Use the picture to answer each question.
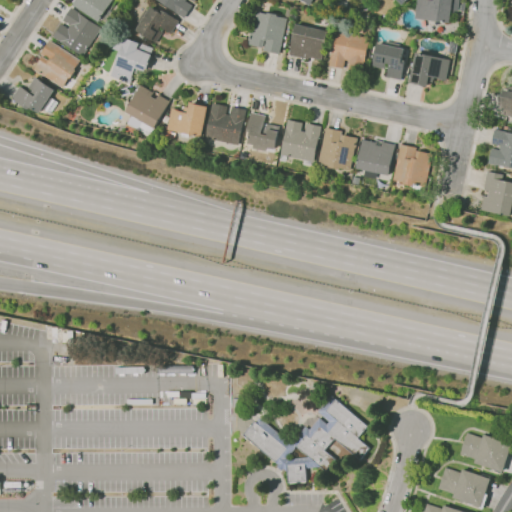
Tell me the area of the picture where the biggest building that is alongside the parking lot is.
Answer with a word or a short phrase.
bottom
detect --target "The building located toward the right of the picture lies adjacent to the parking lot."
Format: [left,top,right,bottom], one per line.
[244,400,370,485]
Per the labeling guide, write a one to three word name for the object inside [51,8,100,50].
house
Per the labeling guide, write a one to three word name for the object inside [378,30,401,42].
swimming pool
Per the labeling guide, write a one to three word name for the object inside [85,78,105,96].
swimming pool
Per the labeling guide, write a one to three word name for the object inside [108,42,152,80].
house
